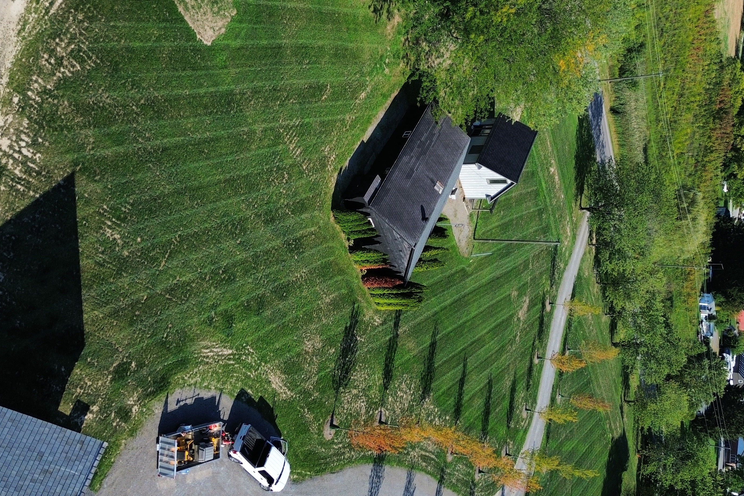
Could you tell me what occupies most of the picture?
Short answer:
grass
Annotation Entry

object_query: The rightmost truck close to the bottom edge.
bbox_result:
[228,424,294,496]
